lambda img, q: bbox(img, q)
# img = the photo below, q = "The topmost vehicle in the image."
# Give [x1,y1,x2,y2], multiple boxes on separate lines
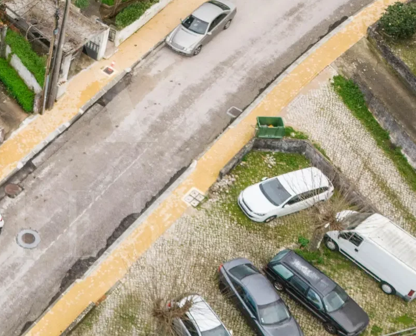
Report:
[168,0,238,58]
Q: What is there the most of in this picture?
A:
paved ground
